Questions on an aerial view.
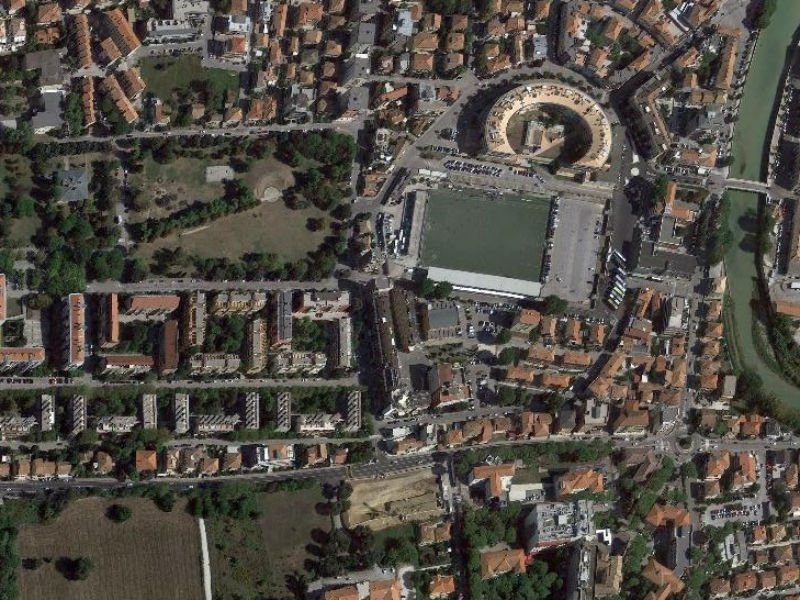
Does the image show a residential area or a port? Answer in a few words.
residential area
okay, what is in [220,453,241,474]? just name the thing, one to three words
house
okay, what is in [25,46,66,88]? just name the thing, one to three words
building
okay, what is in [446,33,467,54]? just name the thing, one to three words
house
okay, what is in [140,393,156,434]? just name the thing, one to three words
building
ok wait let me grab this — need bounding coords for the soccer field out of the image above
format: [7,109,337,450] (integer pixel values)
[421,190,551,282]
